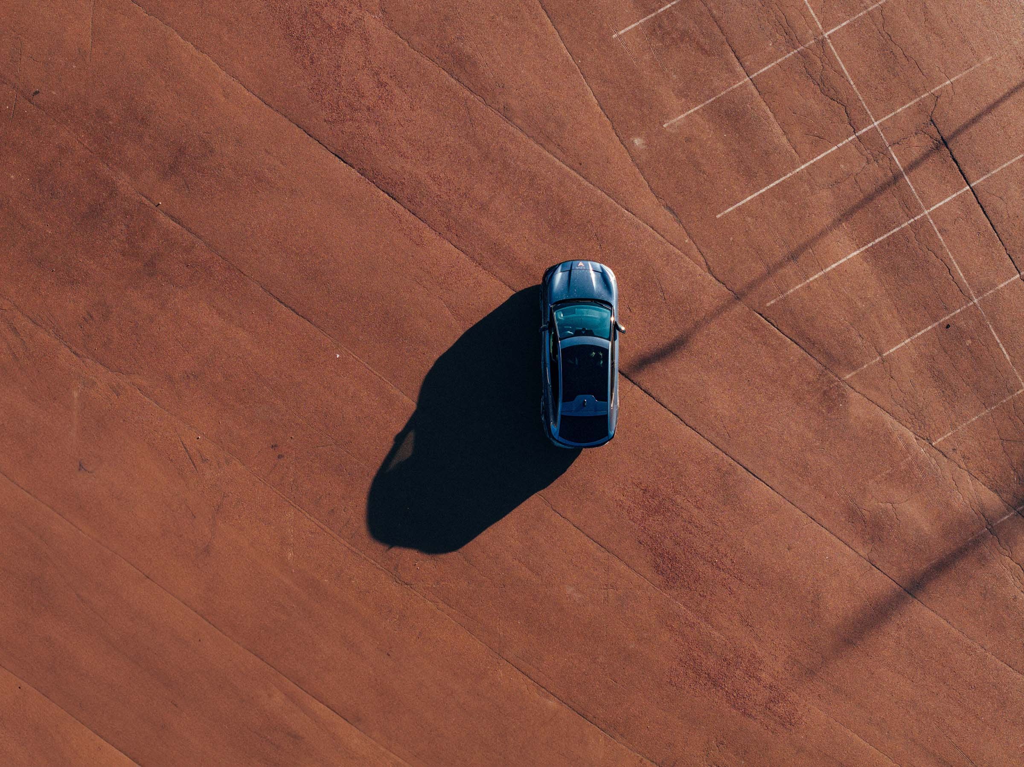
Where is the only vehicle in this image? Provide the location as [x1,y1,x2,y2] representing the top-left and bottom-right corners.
[537,260,627,449]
